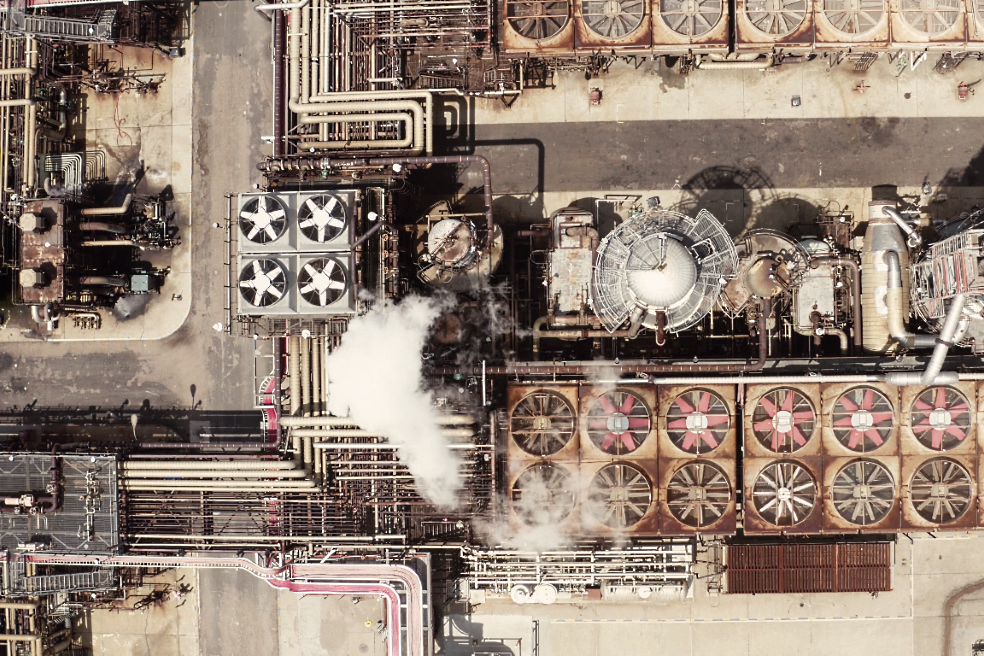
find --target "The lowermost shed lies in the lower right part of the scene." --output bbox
[719,534,895,594]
